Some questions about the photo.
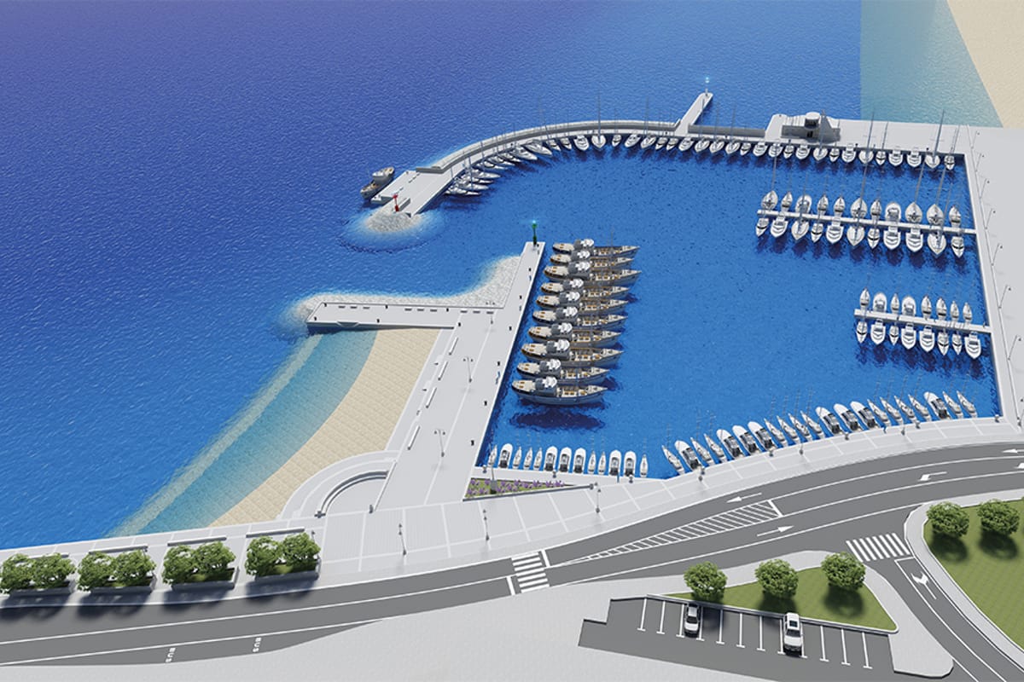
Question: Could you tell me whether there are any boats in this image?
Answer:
Yes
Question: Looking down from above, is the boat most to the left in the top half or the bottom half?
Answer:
top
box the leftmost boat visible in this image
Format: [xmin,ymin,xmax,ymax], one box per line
[361,163,398,202]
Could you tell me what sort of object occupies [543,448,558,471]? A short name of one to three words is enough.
boat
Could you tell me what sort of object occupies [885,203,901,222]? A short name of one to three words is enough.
boat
